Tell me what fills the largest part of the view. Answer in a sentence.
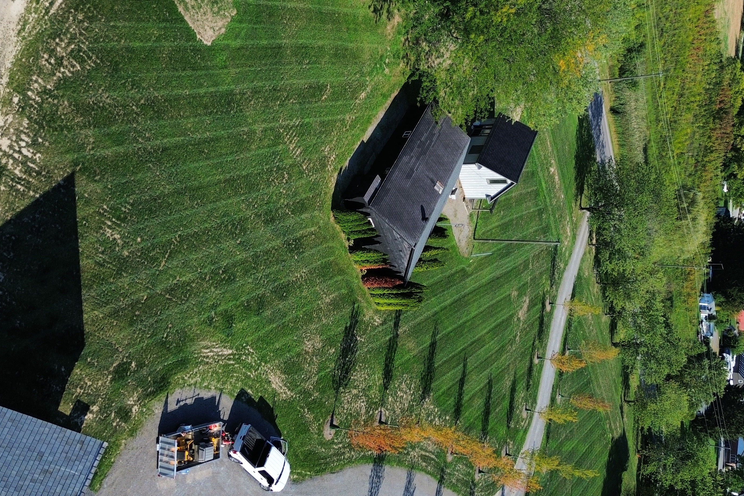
The scene is dominated by grass.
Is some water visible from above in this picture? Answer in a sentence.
No, there's no water in this view.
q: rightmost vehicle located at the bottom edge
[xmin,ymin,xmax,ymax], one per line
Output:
[228,424,294,496]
